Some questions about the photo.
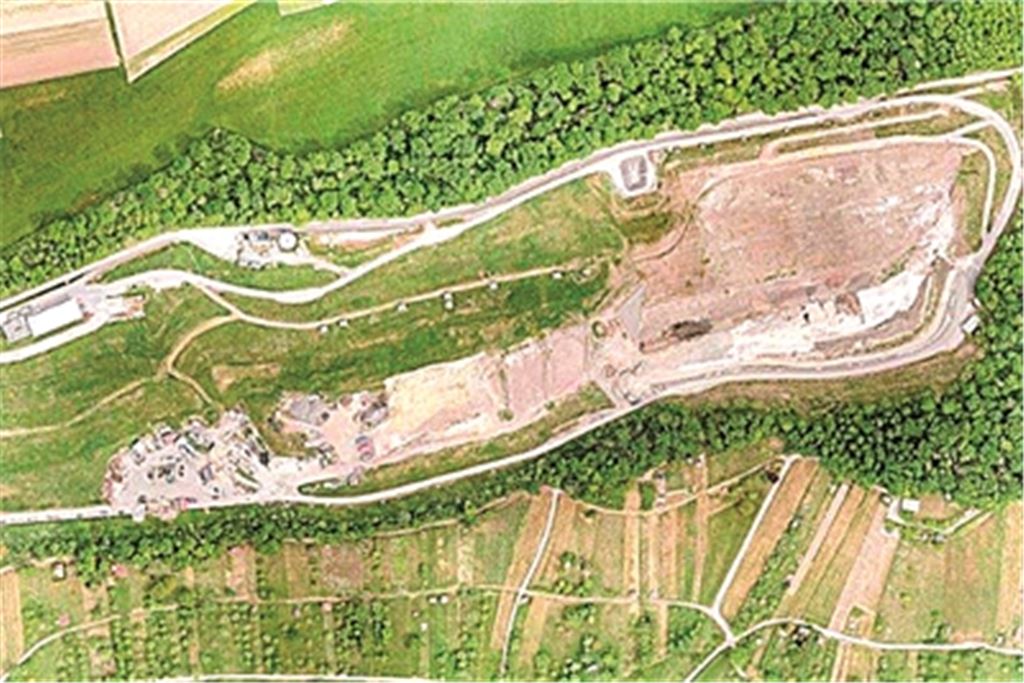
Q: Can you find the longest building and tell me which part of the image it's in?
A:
left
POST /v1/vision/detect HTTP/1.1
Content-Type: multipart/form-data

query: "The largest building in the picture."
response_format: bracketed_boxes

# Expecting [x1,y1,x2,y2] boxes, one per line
[28,297,81,338]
